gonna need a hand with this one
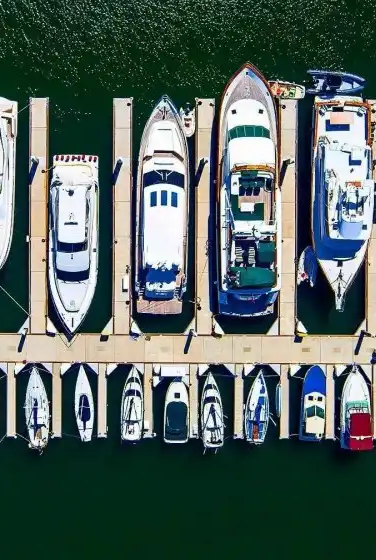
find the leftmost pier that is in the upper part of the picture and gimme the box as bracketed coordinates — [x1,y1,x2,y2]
[16,94,61,333]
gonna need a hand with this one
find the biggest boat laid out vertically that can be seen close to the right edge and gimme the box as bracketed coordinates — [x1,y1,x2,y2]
[298,94,375,313]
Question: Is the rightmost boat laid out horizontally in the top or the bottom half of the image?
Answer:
top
